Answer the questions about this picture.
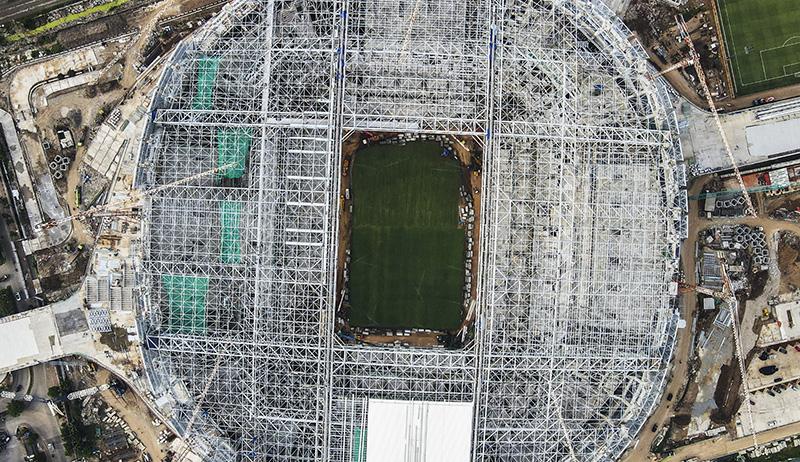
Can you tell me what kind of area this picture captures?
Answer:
sports ground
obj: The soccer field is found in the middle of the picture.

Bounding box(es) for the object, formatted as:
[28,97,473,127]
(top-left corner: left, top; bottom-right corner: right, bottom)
[344,134,467,337]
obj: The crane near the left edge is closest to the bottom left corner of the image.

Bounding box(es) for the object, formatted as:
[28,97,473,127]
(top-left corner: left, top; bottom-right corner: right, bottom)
[0,378,126,403]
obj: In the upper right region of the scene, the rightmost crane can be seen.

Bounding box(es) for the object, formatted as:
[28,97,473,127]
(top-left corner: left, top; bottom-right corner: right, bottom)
[656,13,752,214]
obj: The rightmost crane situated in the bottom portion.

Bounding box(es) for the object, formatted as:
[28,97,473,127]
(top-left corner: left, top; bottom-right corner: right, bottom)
[681,252,763,451]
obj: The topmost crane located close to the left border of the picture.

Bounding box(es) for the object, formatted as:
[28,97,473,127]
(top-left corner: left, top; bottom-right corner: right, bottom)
[38,163,237,224]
